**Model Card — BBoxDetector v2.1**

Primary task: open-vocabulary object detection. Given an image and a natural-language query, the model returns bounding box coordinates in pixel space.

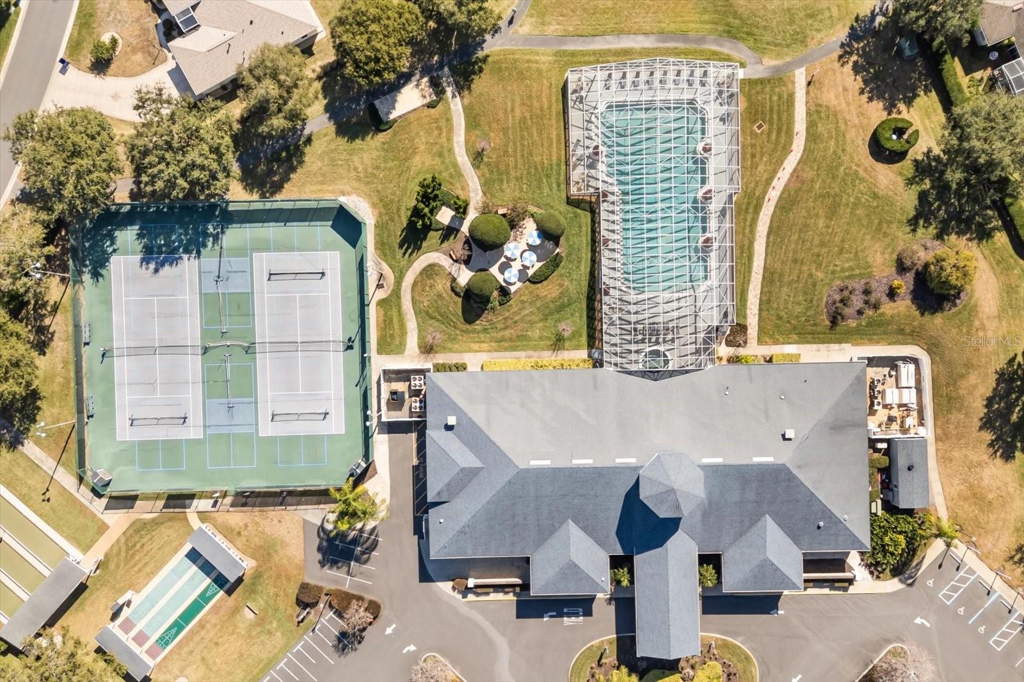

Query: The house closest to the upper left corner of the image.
[164,0,318,98]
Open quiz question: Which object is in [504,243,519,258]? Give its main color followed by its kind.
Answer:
white umbrella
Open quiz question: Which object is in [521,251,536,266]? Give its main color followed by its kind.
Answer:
white umbrella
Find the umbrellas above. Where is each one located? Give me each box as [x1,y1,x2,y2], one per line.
[527,231,542,245]
[521,251,536,266]
[504,243,519,258]
[503,268,519,283]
